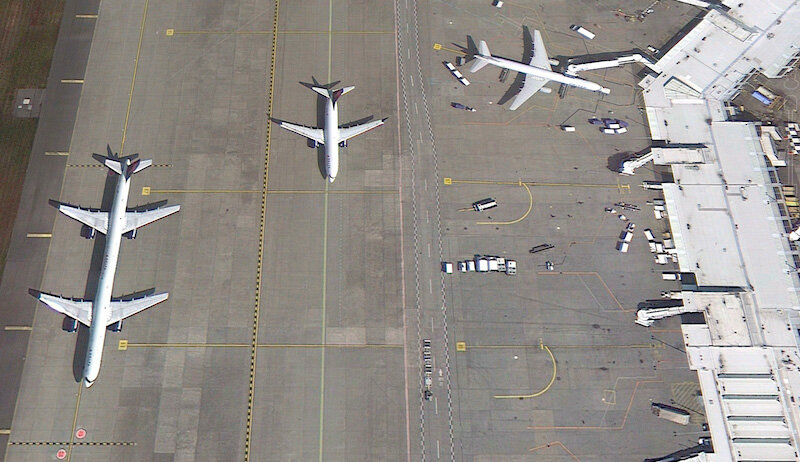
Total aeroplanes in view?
3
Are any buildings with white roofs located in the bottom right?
Yes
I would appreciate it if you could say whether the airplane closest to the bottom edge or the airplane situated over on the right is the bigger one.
the airplane closest to the bottom edge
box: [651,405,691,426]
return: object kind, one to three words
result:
truck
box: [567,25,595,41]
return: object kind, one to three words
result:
vehicle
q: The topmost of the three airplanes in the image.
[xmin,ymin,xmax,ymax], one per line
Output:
[472,27,610,109]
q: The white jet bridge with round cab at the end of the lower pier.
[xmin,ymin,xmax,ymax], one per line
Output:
[632,306,686,328]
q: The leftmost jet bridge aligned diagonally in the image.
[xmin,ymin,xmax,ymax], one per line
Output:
[618,151,655,179]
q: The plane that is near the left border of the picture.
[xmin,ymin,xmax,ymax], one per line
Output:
[37,149,174,388]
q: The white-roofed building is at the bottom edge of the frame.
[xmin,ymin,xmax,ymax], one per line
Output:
[680,284,800,462]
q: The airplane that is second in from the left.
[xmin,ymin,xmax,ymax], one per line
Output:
[277,74,388,182]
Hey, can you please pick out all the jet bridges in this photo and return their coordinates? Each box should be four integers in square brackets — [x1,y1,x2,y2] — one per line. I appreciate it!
[632,306,686,328]
[618,151,655,179]
[659,0,713,13]
[565,53,661,77]
[676,451,716,462]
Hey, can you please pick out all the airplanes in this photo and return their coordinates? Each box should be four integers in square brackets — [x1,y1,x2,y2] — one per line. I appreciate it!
[37,149,174,388]
[472,27,610,109]
[277,74,388,182]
